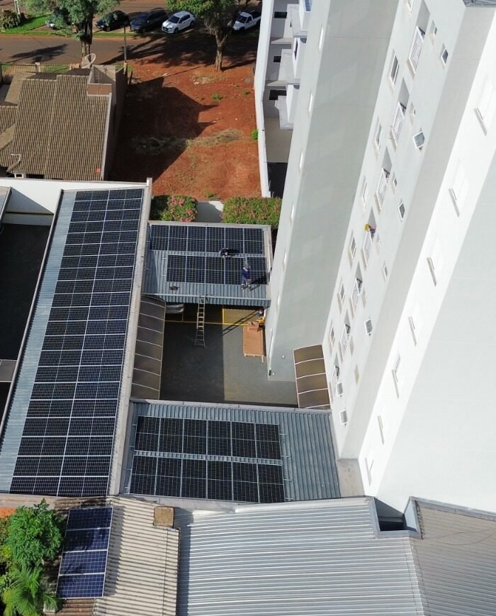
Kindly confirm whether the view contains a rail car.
No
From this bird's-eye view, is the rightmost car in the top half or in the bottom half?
top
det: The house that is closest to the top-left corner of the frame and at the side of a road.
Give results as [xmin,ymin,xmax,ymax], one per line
[0,45,136,182]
